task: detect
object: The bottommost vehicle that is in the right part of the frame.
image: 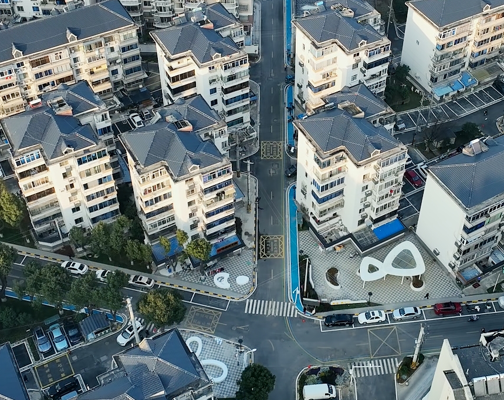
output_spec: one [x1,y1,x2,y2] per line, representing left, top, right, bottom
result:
[303,381,338,399]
